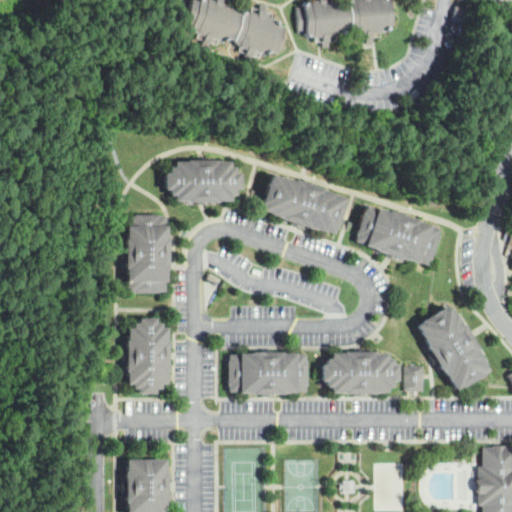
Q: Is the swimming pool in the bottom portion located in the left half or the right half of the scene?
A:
right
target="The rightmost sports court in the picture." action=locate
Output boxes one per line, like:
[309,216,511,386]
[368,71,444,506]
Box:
[373,463,404,512]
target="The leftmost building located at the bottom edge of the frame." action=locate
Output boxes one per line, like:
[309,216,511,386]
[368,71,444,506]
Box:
[128,459,172,512]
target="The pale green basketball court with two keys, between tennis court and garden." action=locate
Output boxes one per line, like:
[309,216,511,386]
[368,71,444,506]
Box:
[284,459,319,512]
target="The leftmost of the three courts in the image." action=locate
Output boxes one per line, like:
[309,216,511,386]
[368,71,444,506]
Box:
[224,448,262,512]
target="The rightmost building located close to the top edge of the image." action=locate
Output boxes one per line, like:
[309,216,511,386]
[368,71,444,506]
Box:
[294,0,396,49]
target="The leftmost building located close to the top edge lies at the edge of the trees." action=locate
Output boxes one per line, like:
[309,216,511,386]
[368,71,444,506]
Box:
[191,0,286,59]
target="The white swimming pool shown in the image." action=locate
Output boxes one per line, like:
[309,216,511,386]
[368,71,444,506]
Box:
[418,456,478,512]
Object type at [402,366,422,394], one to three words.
house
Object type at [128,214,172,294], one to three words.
building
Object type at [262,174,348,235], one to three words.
building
